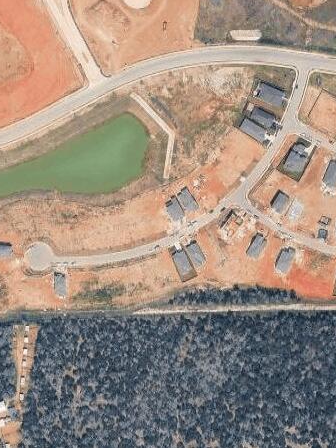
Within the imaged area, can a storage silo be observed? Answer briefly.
No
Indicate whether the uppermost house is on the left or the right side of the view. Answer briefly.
right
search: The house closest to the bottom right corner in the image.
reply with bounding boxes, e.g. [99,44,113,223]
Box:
[275,249,296,273]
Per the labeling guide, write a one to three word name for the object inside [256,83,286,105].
house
